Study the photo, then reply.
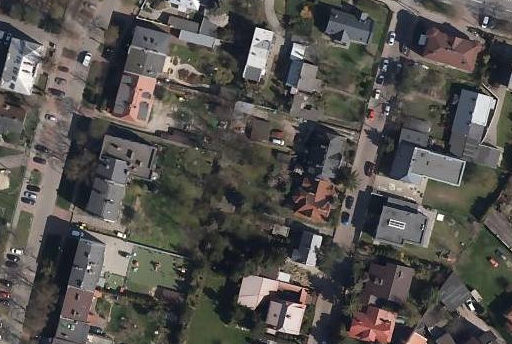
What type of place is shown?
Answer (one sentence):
The area seen from above is a residential area.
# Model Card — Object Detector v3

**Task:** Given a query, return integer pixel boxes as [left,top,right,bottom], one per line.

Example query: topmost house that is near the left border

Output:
[1,37,44,96]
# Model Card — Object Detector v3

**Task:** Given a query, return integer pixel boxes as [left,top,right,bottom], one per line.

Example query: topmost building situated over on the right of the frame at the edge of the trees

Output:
[325,8,373,48]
